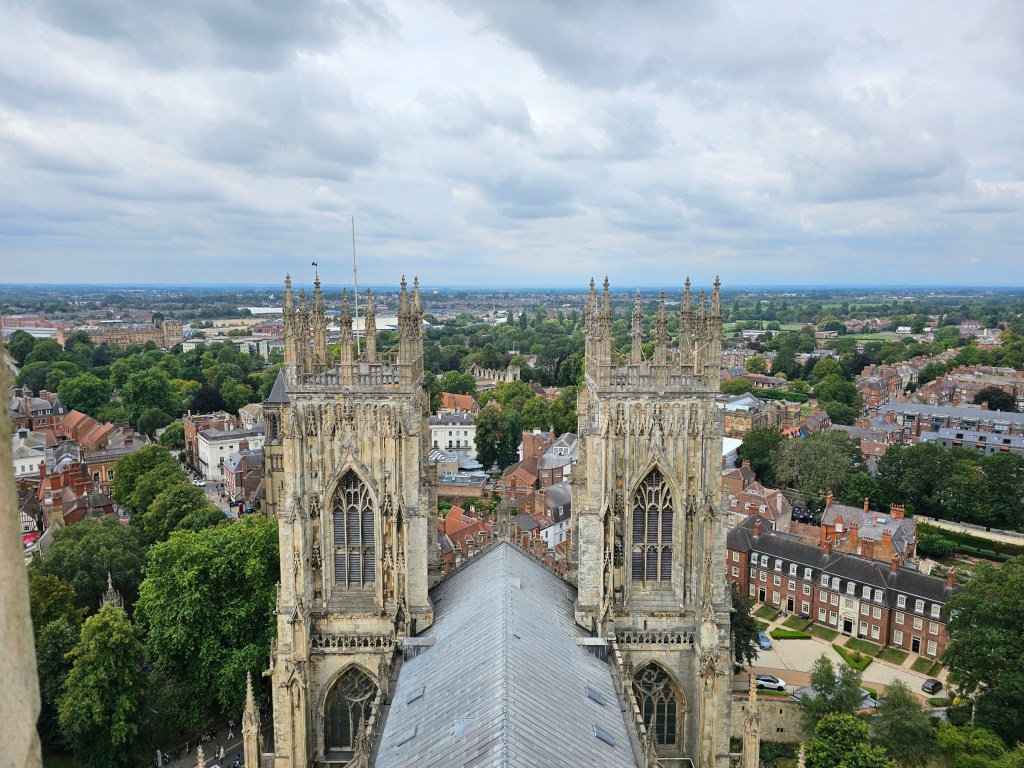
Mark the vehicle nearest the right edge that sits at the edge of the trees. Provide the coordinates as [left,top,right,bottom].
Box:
[921,677,944,693]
